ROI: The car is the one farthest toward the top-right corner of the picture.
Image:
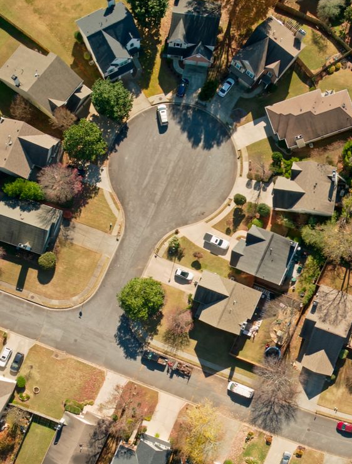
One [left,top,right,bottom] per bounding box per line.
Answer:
[218,77,233,97]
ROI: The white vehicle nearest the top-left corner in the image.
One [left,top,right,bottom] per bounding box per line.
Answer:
[156,104,169,125]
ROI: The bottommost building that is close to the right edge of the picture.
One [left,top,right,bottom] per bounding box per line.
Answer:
[297,285,352,377]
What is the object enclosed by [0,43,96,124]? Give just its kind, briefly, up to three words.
house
